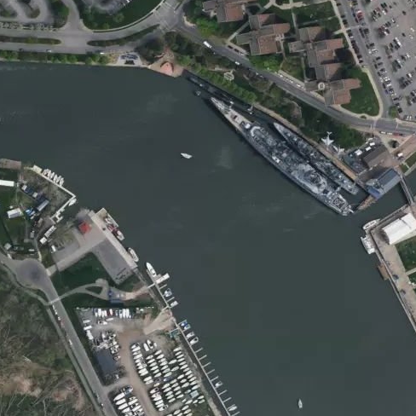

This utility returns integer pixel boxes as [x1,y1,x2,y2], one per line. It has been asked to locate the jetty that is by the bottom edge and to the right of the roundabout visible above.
[142,264,237,416]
